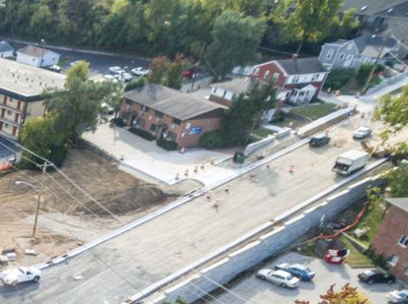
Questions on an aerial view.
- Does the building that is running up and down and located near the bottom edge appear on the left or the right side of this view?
right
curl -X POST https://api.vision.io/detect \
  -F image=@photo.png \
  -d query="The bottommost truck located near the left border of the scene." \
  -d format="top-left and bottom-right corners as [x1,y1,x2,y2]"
[0,264,46,287]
